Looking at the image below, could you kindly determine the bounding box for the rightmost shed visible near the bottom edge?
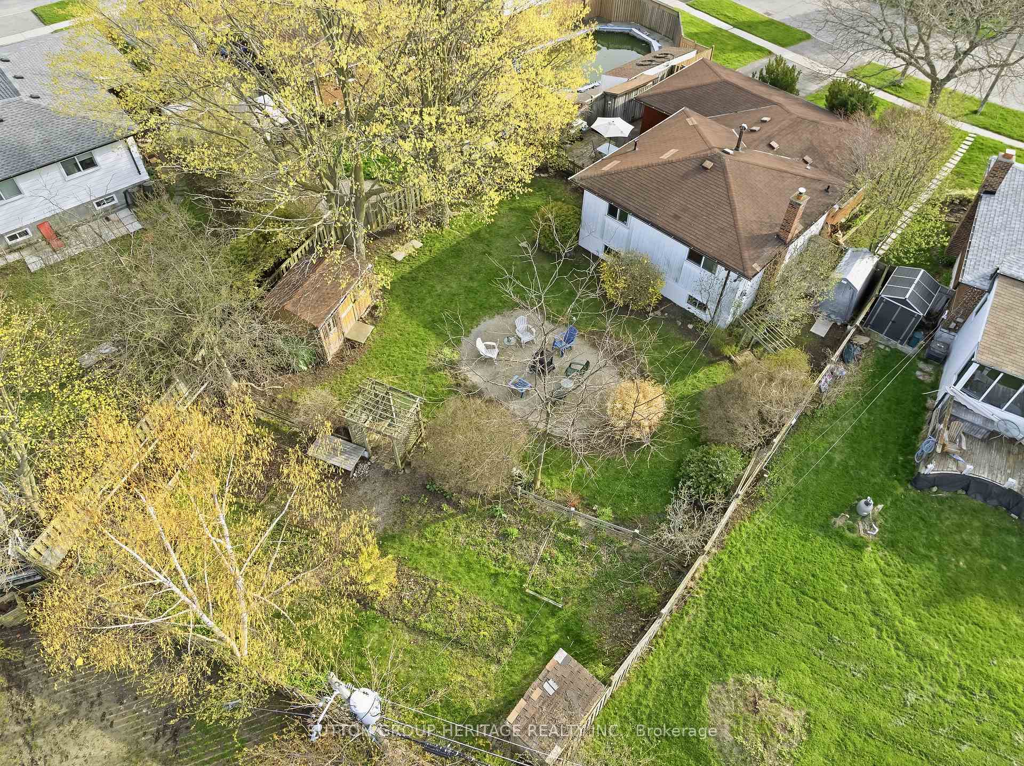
[492,644,608,766]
